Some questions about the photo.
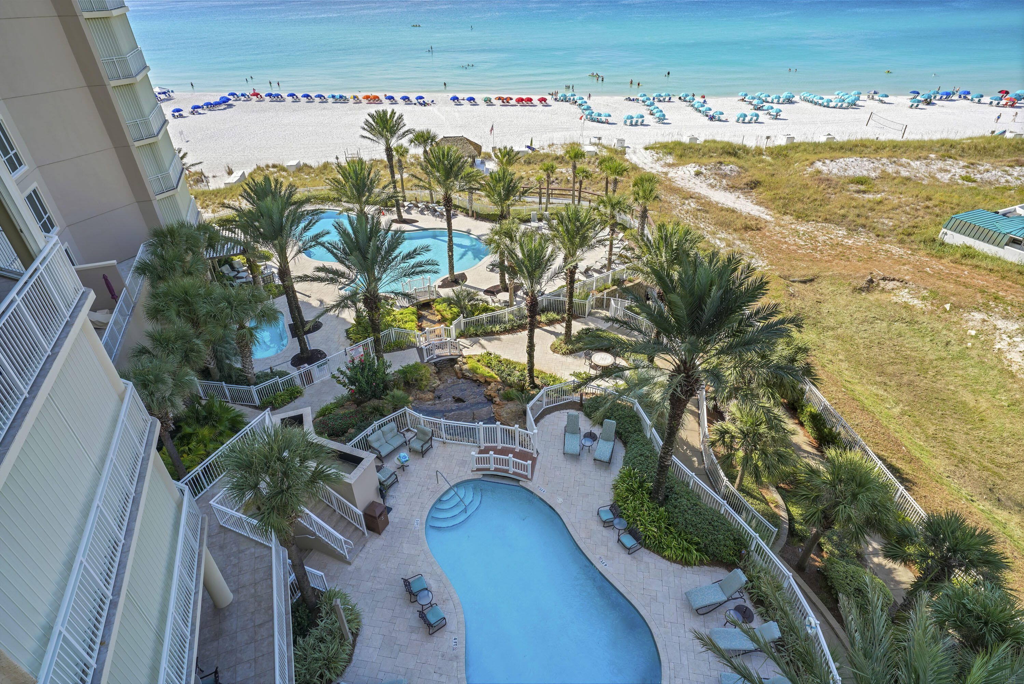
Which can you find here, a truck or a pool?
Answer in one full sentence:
It is a pool that can be seen here.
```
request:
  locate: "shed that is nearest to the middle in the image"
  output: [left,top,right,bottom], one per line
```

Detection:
[429,136,478,168]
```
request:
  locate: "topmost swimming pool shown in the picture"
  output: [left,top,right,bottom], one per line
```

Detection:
[294,208,492,294]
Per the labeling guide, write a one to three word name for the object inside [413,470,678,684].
swimming pool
